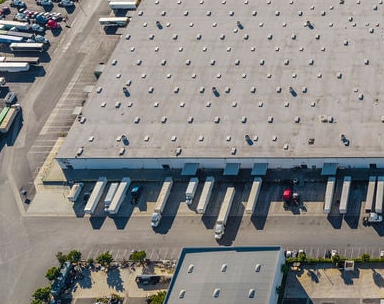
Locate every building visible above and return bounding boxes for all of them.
[164,247,287,304]
[41,0,384,184]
